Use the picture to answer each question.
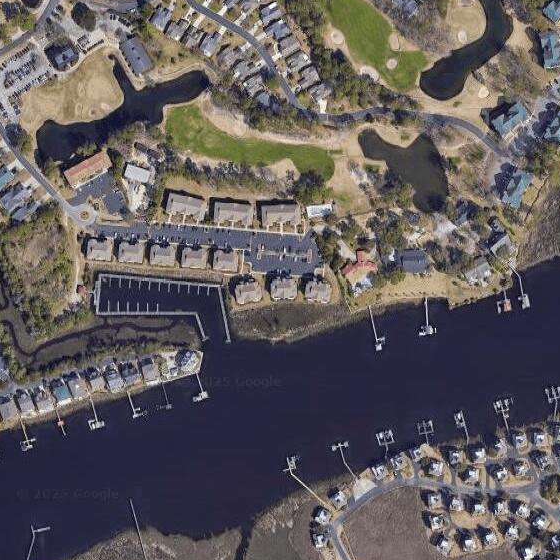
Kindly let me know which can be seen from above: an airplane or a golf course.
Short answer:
golf course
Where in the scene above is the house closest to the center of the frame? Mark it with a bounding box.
[271,279,297,299]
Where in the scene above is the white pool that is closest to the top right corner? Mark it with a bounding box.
[307,203,333,217]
